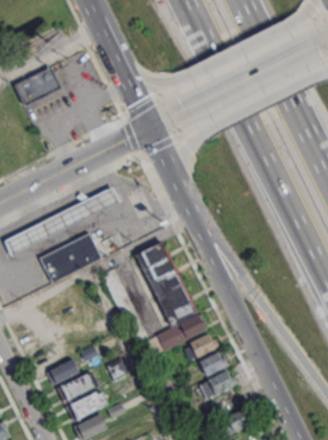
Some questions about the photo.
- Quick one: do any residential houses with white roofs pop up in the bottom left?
Yes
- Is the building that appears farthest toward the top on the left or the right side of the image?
left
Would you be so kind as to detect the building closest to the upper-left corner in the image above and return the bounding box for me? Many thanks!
[14,68,60,104]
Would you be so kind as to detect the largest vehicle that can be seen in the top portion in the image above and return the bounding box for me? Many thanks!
[96,44,116,74]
